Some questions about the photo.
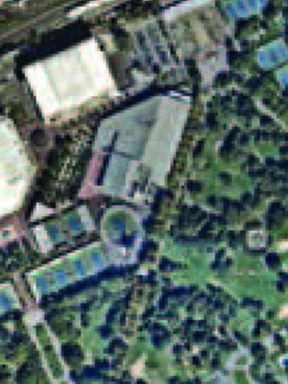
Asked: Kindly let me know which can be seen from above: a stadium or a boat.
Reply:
stadium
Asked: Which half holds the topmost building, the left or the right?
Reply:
right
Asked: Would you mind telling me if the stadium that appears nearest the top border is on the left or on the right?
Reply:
left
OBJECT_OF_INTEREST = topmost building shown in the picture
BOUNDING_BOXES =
[165,0,214,21]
